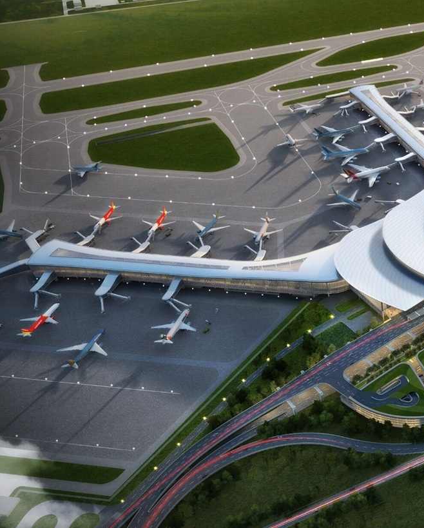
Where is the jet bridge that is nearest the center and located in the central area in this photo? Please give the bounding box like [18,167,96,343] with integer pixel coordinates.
[185,237,209,258]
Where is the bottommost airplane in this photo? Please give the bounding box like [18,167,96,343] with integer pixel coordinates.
[61,331,106,366]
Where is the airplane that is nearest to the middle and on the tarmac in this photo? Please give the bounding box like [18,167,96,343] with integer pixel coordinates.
[196,213,227,237]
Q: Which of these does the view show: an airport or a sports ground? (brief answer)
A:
airport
